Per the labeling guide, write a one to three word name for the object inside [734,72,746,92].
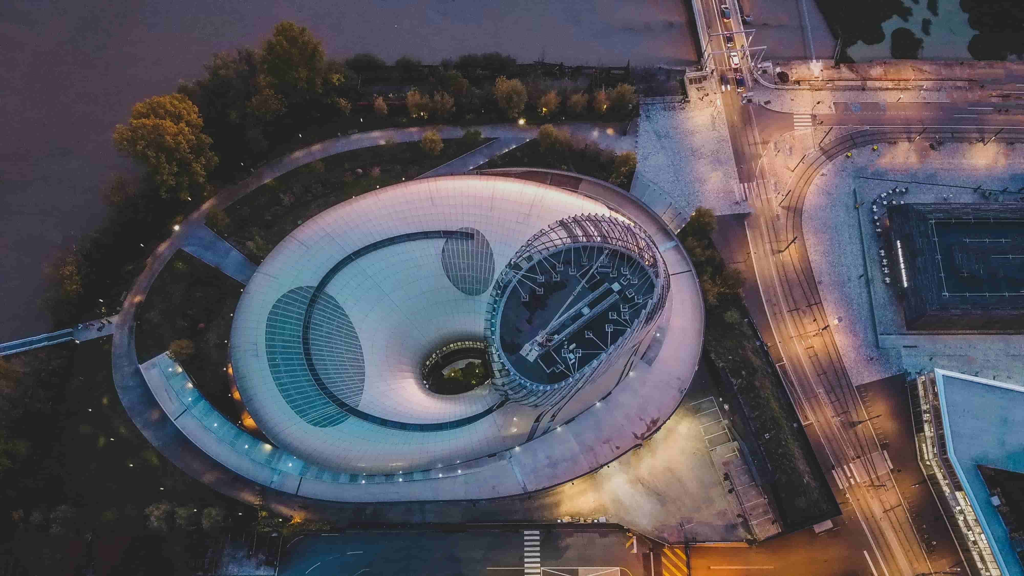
vehicle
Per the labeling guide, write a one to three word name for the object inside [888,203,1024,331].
building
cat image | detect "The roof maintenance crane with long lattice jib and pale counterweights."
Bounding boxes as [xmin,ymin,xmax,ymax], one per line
[520,248,610,363]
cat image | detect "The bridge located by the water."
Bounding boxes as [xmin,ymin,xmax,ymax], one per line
[693,0,754,75]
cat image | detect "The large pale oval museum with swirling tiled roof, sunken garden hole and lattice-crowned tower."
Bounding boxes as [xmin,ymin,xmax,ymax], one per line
[139,167,705,502]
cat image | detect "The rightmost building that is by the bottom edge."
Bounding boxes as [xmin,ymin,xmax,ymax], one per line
[877,369,1024,576]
